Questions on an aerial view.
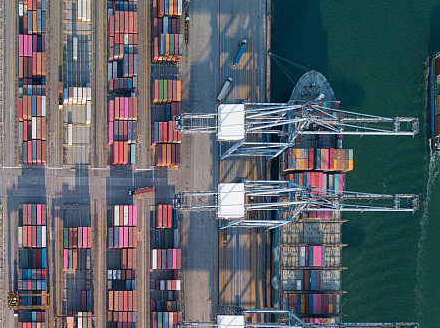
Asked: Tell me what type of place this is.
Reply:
port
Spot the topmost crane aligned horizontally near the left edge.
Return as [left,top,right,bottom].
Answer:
[5,289,52,310]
